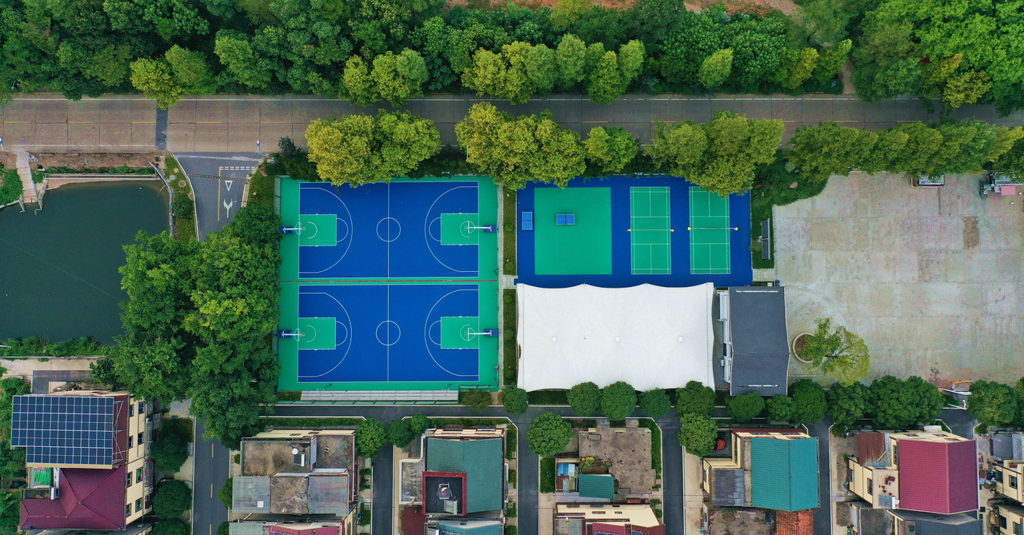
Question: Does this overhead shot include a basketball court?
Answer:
Yes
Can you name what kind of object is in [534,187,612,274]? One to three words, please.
sports court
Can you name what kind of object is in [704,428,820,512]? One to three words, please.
house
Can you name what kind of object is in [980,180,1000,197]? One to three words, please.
work vehicle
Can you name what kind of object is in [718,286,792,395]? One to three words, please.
building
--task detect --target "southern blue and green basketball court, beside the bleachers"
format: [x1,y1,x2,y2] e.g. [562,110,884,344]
[277,281,498,391]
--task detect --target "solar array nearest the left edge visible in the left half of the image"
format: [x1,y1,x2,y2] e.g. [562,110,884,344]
[10,397,128,464]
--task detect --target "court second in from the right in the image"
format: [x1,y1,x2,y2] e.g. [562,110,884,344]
[631,187,671,274]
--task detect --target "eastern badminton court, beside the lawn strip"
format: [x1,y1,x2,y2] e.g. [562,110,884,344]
[690,187,730,274]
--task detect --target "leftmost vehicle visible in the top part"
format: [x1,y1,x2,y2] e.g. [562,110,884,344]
[910,174,945,187]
